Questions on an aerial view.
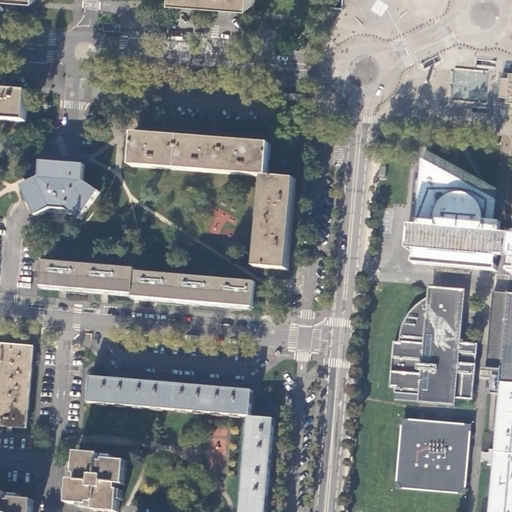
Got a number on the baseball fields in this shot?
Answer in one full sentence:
The photo contains no baseball fields.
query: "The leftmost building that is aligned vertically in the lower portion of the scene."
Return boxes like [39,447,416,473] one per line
[0,342,37,430]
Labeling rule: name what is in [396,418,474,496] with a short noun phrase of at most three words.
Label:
building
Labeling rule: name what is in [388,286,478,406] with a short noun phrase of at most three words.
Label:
building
